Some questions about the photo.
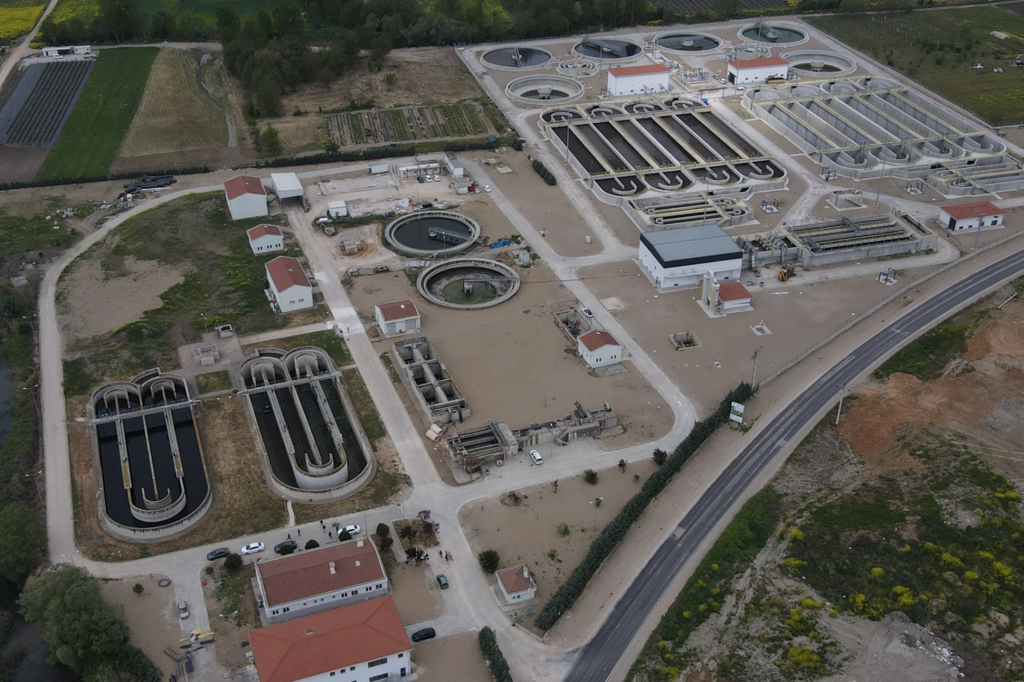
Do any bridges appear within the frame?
Yes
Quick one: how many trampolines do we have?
0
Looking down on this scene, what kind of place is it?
industrial area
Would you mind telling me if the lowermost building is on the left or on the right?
left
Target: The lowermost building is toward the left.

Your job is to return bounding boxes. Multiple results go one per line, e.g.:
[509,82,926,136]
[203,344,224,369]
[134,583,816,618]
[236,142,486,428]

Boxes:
[249,596,420,682]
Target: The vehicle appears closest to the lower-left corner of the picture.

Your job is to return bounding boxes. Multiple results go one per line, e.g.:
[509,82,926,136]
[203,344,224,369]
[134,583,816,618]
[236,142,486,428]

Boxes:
[176,601,189,620]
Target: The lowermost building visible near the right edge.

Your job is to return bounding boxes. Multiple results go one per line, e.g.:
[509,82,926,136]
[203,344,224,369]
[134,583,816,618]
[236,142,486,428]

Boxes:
[934,200,1009,234]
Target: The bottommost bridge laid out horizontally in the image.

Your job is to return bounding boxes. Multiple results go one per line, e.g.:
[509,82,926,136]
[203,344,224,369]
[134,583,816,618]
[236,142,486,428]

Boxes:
[85,395,201,429]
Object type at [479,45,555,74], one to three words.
storage tank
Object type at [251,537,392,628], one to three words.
building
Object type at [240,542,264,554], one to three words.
vehicle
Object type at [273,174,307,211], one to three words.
shed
